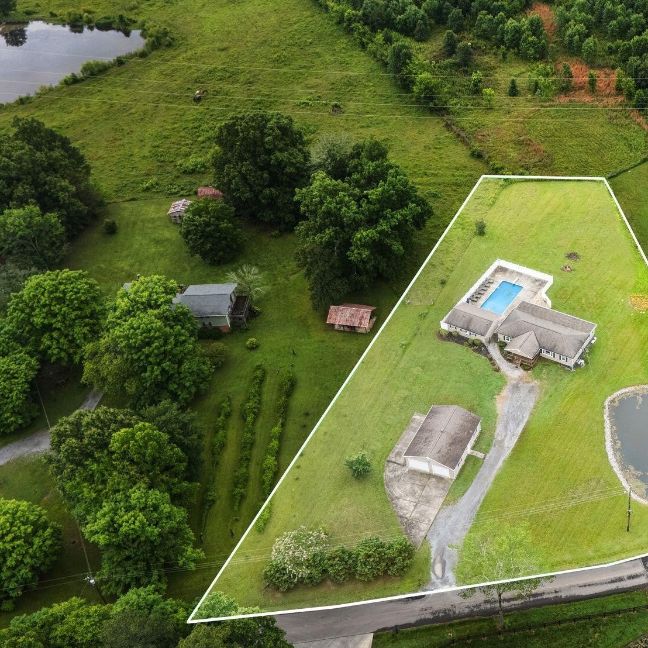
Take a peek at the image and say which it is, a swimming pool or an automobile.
swimming pool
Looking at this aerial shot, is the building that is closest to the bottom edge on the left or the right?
right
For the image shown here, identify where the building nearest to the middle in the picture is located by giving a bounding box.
[326,301,381,333]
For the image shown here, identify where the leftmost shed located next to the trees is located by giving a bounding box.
[161,202,191,228]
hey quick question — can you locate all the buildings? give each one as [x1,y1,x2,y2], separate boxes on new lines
[161,202,191,228]
[326,301,381,333]
[443,301,598,371]
[402,405,482,478]
[161,287,253,333]
[194,184,222,201]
